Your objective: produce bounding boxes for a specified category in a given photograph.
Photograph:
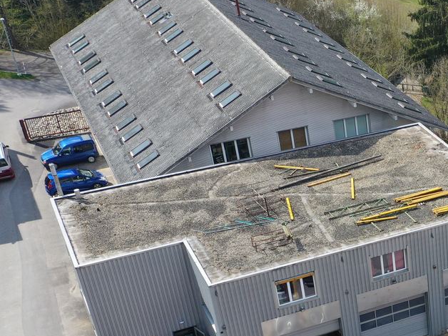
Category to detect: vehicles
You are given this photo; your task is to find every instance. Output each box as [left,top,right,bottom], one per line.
[40,134,100,167]
[0,140,23,177]
[39,163,103,194]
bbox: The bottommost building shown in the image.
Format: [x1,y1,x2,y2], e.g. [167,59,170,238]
[41,123,448,336]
